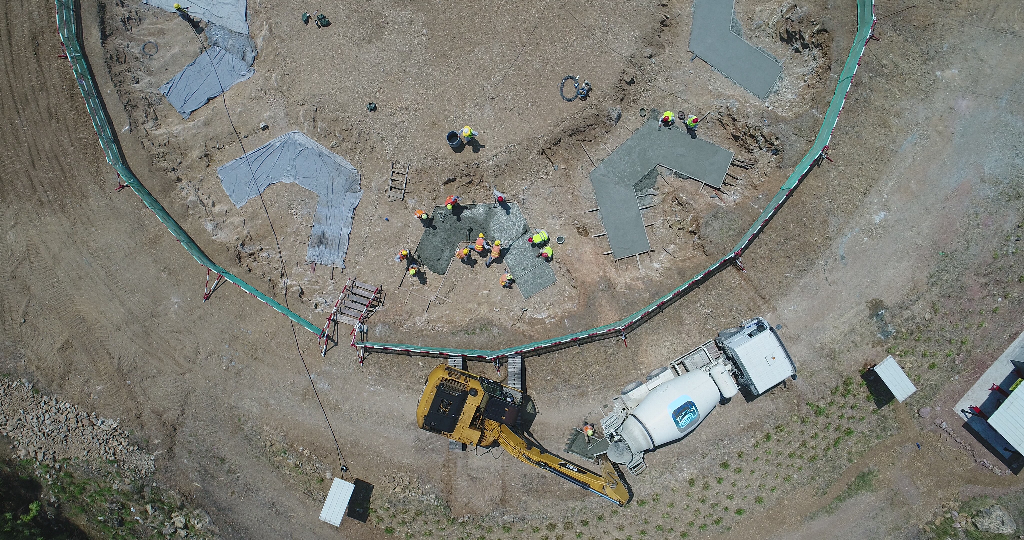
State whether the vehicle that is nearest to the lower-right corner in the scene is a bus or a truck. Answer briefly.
truck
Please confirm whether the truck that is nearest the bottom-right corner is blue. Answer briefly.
No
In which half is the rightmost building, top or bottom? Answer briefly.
bottom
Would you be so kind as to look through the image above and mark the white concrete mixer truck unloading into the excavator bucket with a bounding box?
[585,313,807,477]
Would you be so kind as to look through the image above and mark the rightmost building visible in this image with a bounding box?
[950,331,1024,476]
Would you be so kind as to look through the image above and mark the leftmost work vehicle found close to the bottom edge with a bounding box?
[413,352,634,513]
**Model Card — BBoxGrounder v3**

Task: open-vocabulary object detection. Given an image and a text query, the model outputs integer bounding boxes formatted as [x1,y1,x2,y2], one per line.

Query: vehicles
[413,352,634,513]
[585,313,807,477]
